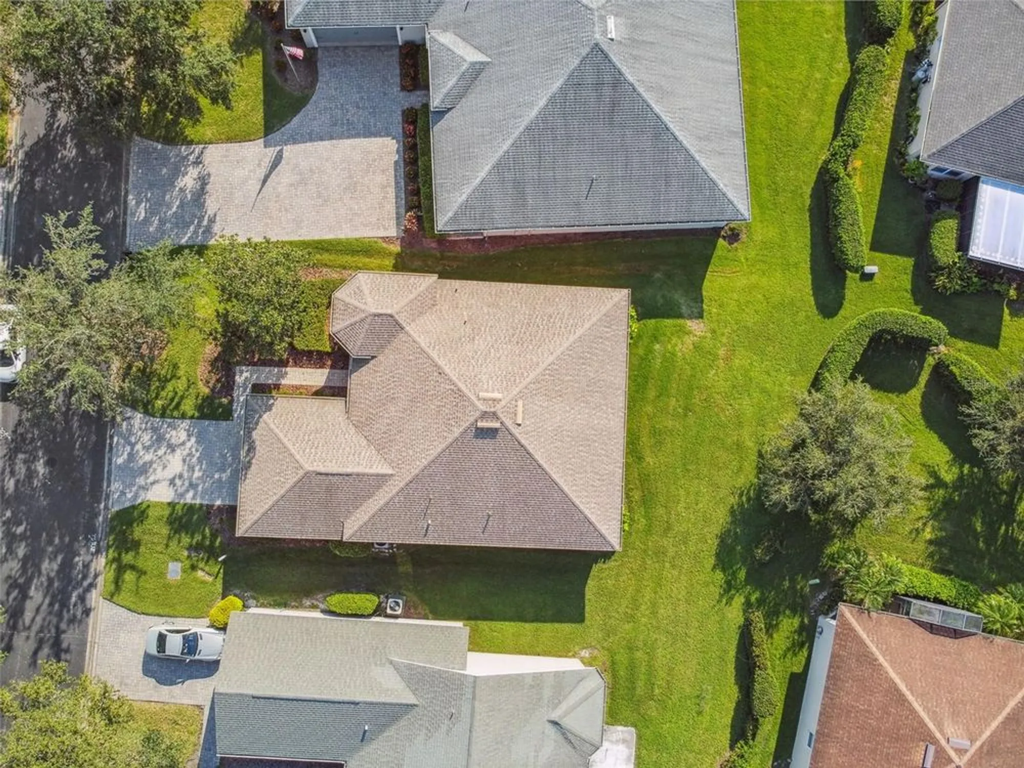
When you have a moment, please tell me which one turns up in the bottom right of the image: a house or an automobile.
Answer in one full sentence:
There is a house in the bottom right of the image.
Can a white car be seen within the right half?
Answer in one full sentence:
No, no white car can be made out within the right half.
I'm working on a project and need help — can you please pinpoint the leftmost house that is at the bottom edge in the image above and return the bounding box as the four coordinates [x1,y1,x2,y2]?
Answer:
[214,608,609,768]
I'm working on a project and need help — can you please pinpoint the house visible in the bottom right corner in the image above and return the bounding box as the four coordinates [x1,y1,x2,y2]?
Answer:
[790,590,1024,768]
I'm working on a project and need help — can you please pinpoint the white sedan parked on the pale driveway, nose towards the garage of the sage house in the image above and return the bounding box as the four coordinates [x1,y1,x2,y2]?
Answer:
[144,625,225,669]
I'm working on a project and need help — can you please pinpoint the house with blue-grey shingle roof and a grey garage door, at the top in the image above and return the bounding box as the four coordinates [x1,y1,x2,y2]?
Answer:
[282,0,751,242]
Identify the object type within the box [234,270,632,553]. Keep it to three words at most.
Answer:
house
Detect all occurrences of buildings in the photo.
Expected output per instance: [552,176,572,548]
[790,590,1024,768]
[282,0,751,242]
[904,0,1024,277]
[214,608,609,768]
[234,270,632,553]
